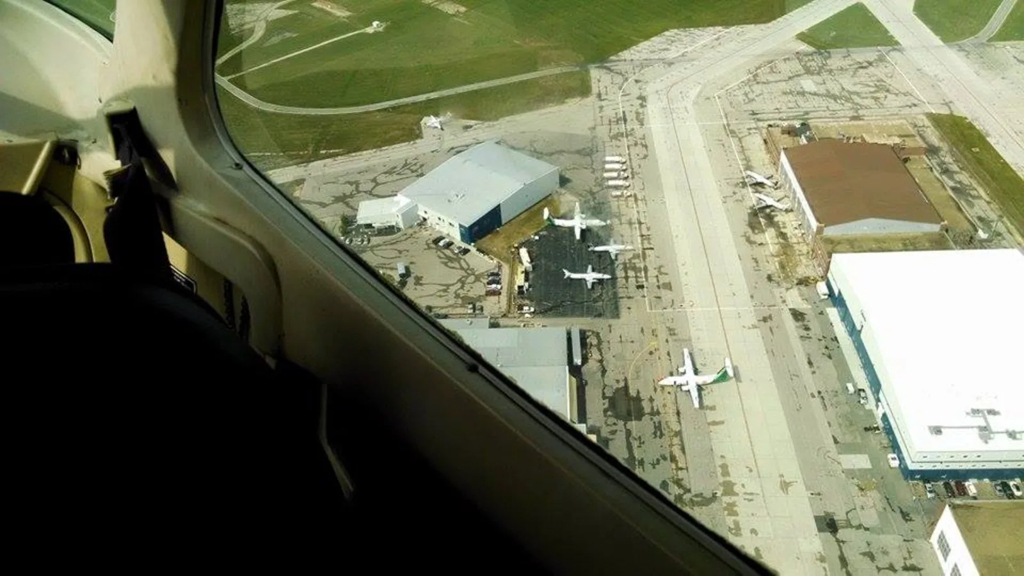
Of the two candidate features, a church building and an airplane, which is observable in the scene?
airplane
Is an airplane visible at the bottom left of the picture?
No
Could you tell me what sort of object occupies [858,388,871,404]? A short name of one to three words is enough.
vehicle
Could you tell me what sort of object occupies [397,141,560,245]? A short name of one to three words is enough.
hangar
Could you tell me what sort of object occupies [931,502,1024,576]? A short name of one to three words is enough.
hangar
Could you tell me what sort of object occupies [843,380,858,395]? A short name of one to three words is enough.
vehicle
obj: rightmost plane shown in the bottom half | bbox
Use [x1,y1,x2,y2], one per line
[660,348,736,407]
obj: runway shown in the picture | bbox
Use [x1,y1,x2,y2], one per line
[861,0,1024,182]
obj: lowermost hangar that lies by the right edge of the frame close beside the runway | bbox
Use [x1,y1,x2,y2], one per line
[824,250,1024,484]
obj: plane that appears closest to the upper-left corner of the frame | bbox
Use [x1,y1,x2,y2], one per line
[427,115,449,128]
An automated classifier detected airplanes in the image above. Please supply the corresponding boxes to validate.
[753,191,785,210]
[427,115,449,128]
[561,262,611,291]
[545,202,606,239]
[587,236,636,263]
[745,169,776,188]
[660,348,736,407]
